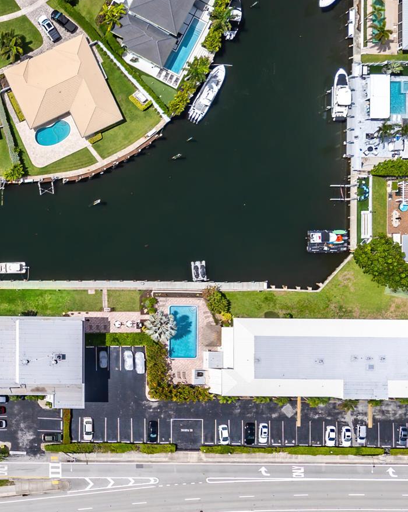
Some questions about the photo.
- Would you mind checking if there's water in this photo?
Yes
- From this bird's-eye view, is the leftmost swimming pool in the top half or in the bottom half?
top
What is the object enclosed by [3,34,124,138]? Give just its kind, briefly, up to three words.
house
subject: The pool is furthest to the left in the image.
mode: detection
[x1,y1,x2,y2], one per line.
[34,119,71,147]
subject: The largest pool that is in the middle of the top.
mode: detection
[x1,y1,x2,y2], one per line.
[163,16,209,76]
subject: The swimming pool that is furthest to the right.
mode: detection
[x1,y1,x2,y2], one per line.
[391,79,408,115]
